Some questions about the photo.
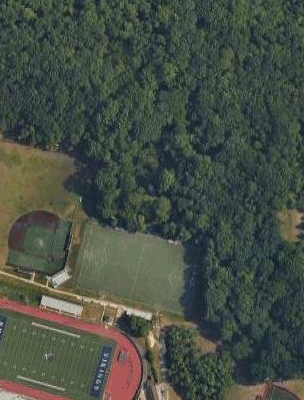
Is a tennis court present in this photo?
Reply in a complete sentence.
No, the photo shows no tennis court.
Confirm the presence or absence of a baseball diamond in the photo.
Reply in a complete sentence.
Yes, you can see a baseball diamond in this photo.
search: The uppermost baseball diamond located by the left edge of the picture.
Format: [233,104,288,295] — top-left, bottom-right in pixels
[6,210,71,275]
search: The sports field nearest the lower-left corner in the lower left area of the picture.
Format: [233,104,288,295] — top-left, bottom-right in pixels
[0,311,116,400]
